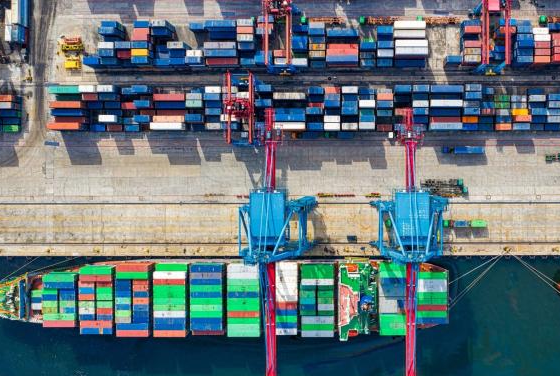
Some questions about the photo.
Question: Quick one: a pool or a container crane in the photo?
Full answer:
Visible in the photo is a container crane.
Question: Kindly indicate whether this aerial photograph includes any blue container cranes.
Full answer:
Yes, a blue container crane is visible in the scene.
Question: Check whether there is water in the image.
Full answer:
Yes, some water is visible.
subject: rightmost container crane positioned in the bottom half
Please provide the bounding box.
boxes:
[367,109,451,376]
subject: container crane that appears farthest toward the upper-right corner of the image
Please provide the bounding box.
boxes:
[469,0,513,77]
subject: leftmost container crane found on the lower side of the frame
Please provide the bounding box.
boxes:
[237,110,318,376]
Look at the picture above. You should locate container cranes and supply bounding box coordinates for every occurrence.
[367,109,451,376]
[469,0,513,77]
[224,71,265,150]
[237,110,318,376]
[261,0,300,78]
